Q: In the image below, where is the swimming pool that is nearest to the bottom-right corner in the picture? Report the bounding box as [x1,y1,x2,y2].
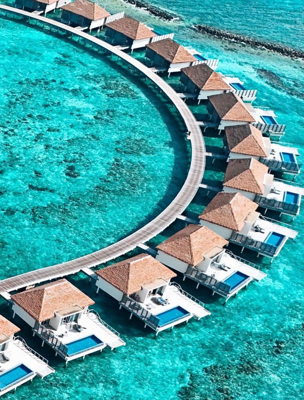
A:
[214,269,250,299]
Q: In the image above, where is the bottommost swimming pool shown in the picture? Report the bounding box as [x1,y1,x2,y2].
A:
[0,364,34,395]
